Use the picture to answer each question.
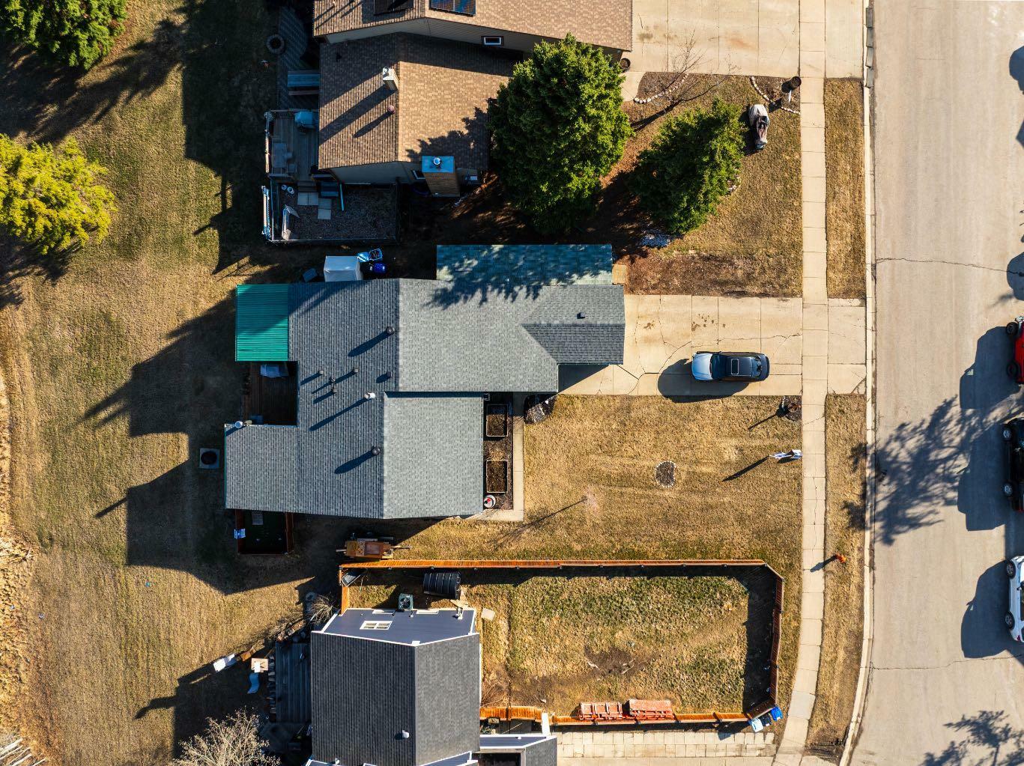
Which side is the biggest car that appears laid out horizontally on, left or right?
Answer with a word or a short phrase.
right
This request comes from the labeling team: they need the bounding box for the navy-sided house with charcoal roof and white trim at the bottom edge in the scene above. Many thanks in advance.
[309,606,557,766]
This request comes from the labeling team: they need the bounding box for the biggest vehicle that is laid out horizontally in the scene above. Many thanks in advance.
[690,349,771,386]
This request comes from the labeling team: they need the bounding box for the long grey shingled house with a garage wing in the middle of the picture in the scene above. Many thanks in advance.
[223,278,627,520]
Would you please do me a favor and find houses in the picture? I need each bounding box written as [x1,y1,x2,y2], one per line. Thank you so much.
[223,278,627,520]
[310,0,634,195]
[309,606,557,766]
